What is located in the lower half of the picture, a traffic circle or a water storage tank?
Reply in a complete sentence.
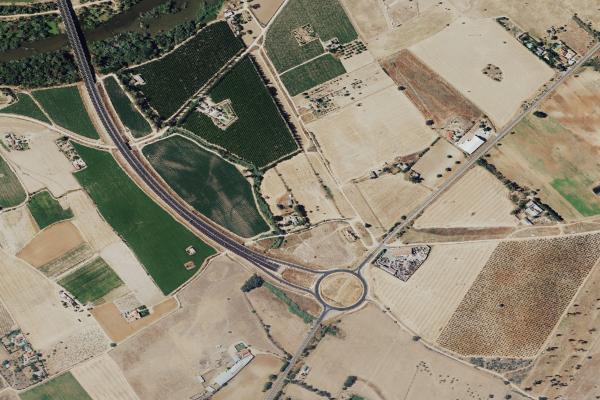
There is a traffic circle in the lower half of the picture.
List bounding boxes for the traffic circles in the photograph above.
[312,266,371,326]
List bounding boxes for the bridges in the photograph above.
[56,0,94,86]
